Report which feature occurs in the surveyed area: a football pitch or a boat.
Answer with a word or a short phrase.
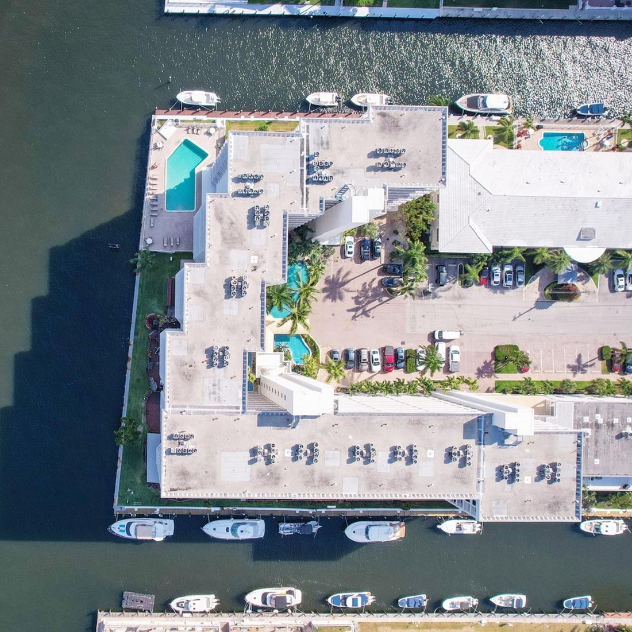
boat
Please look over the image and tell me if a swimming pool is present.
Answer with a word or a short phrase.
Yes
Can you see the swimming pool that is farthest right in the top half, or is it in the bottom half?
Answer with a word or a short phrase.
top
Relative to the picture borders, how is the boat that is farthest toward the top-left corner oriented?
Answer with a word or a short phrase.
from side to side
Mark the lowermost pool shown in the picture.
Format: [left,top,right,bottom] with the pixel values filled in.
[272,333,311,364]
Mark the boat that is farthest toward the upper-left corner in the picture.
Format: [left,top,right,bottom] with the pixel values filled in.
[176,86,221,106]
